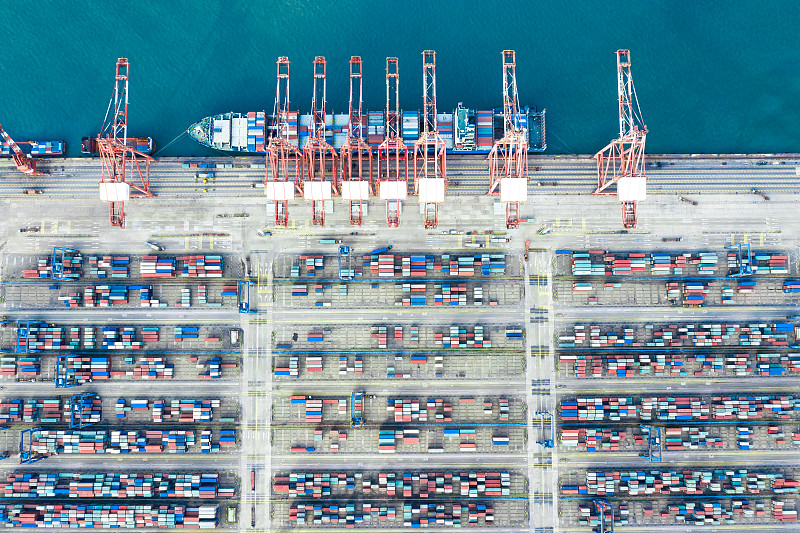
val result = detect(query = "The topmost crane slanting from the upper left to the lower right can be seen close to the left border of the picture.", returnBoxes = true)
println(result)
[0,127,52,178]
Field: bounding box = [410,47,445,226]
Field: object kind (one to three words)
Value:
container crane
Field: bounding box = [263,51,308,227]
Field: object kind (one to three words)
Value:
container crane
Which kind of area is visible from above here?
port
